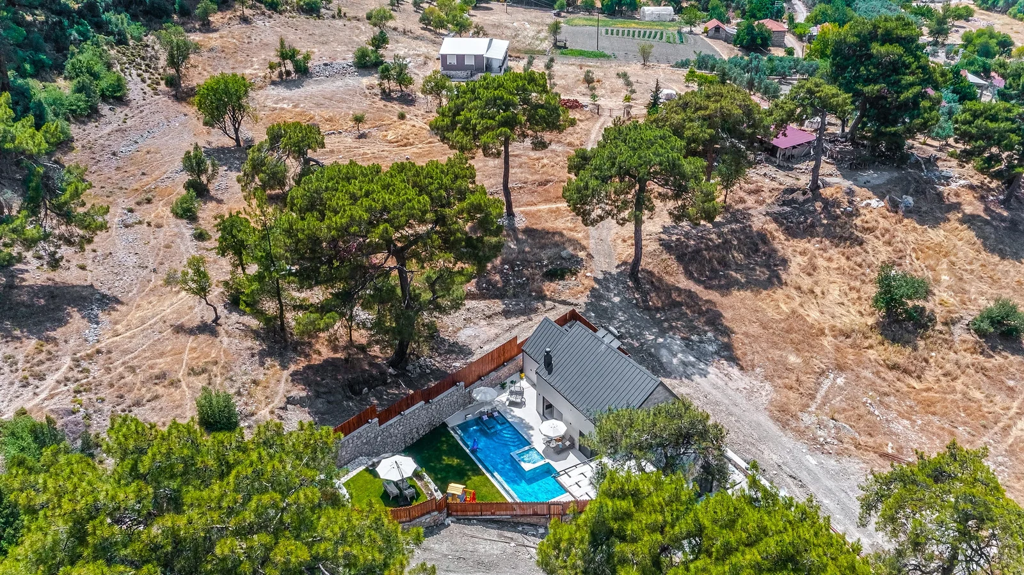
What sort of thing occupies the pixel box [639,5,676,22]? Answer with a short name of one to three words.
greenhouse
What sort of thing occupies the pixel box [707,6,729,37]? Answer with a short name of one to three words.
house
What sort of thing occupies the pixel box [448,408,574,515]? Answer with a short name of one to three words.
swimming pool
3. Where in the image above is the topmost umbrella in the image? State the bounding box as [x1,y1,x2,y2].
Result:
[473,384,496,408]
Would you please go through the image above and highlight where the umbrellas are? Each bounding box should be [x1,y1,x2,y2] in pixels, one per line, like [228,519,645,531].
[540,425,568,453]
[374,456,420,509]
[473,384,496,408]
